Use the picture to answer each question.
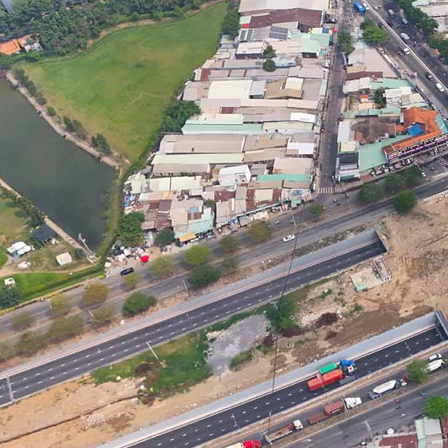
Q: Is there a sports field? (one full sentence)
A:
Yes, a sports field appears in the view.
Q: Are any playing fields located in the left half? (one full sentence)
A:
Yes, in the left half there is a playing field.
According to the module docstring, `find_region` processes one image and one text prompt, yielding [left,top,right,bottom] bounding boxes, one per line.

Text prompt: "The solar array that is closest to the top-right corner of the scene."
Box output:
[270,26,289,40]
